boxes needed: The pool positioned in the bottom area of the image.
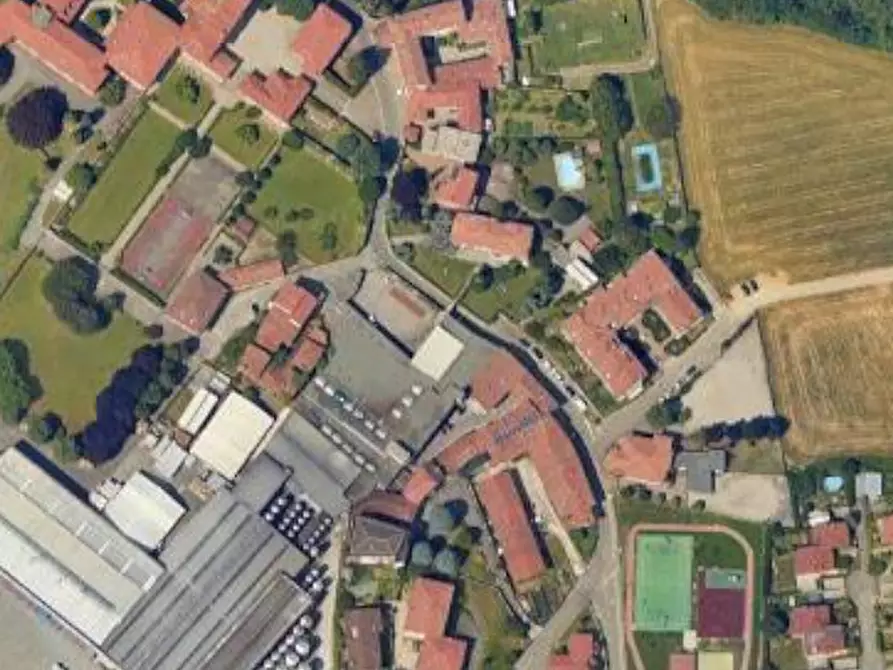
[824,473,843,492]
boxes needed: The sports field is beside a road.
[615,491,766,670]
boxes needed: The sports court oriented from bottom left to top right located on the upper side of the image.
[119,154,249,302]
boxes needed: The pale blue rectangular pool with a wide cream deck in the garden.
[553,151,585,192]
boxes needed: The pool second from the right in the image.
[632,143,660,191]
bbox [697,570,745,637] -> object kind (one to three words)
sports court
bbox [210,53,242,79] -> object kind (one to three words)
shed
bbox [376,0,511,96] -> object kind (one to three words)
house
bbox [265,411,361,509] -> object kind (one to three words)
building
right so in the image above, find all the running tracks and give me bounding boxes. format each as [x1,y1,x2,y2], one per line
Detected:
[628,523,753,670]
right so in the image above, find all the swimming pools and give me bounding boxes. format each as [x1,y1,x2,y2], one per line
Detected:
[632,143,660,191]
[824,473,843,492]
[553,151,585,192]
